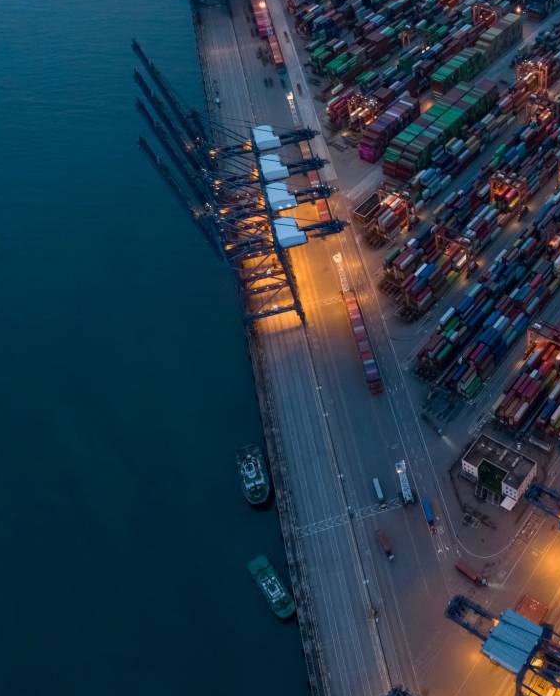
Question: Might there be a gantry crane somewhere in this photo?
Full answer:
Yes, this view includes a gantry crane.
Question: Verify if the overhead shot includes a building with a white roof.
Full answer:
No, there isn't any building with a white roof down there.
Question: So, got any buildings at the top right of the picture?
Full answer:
No, no building can be made out at the top right of the picture.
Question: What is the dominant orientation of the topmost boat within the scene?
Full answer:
What the image shows is the topmost boat lying up and down.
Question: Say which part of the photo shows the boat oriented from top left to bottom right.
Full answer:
You can find the boat oriented from top left to bottom right in the bottom area of the picture.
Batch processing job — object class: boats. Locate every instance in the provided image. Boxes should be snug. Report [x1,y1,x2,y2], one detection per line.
[244,551,293,618]
[235,441,267,504]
